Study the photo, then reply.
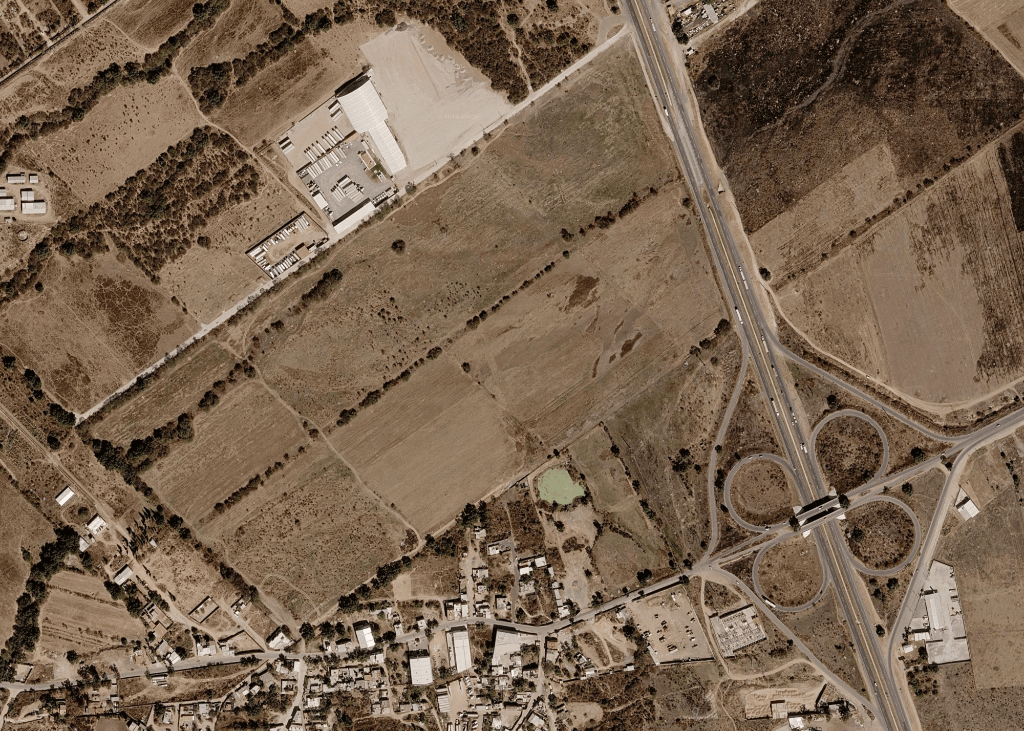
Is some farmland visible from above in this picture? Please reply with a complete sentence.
Yes, the picture does contain farmland.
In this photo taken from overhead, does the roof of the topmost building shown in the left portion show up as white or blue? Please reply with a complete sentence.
In this view, the roof of the topmost building shown in the left portion is white.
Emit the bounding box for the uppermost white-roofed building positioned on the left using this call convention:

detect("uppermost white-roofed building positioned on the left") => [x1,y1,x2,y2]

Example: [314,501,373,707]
[338,78,388,132]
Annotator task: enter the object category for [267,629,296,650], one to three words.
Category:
house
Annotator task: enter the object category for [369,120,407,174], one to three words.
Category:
building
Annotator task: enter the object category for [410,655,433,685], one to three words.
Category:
building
